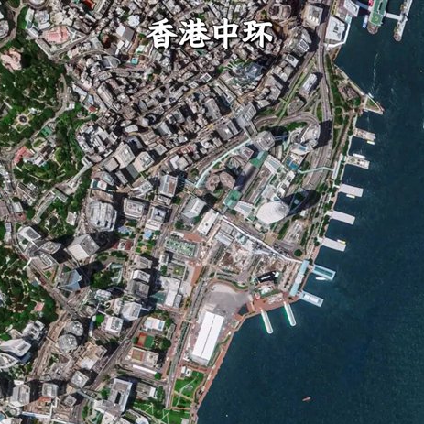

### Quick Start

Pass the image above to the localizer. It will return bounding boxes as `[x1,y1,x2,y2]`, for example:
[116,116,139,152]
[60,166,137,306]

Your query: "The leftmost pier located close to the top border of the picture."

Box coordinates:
[367,0,388,34]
